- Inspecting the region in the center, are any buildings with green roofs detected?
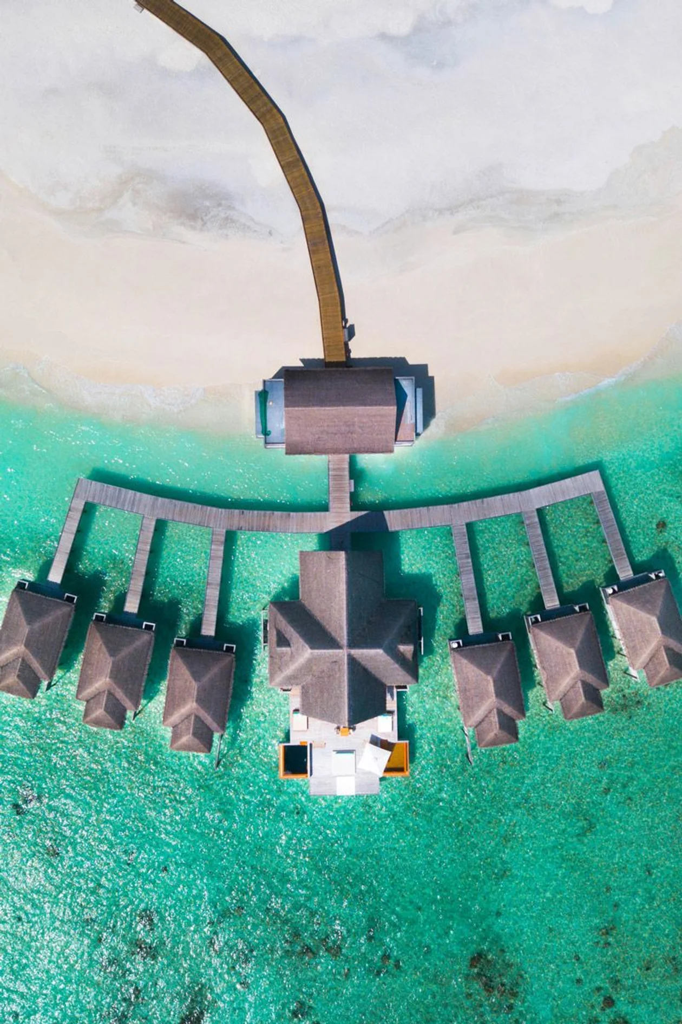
No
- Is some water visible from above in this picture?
Yes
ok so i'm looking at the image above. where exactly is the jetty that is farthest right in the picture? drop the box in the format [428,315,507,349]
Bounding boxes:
[588,488,633,585]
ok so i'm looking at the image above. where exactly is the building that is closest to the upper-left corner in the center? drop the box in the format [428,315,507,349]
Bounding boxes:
[255,369,423,455]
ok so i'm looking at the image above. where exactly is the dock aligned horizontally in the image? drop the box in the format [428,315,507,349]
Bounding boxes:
[74,470,605,533]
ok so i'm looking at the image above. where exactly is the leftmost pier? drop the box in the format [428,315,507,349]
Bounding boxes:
[46,497,88,589]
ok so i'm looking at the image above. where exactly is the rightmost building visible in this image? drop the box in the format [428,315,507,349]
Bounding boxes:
[596,568,682,687]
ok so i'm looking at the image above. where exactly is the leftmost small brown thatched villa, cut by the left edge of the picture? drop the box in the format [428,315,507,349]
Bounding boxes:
[0,579,80,698]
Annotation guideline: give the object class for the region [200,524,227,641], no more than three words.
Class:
pier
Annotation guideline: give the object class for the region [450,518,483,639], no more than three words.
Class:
pier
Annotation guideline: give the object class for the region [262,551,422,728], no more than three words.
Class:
house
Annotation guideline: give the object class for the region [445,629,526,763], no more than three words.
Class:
house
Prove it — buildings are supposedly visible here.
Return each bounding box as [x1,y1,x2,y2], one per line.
[596,568,682,687]
[520,600,610,719]
[0,579,80,698]
[255,369,423,455]
[262,551,422,728]
[445,629,526,763]
[162,636,237,769]
[78,612,157,729]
